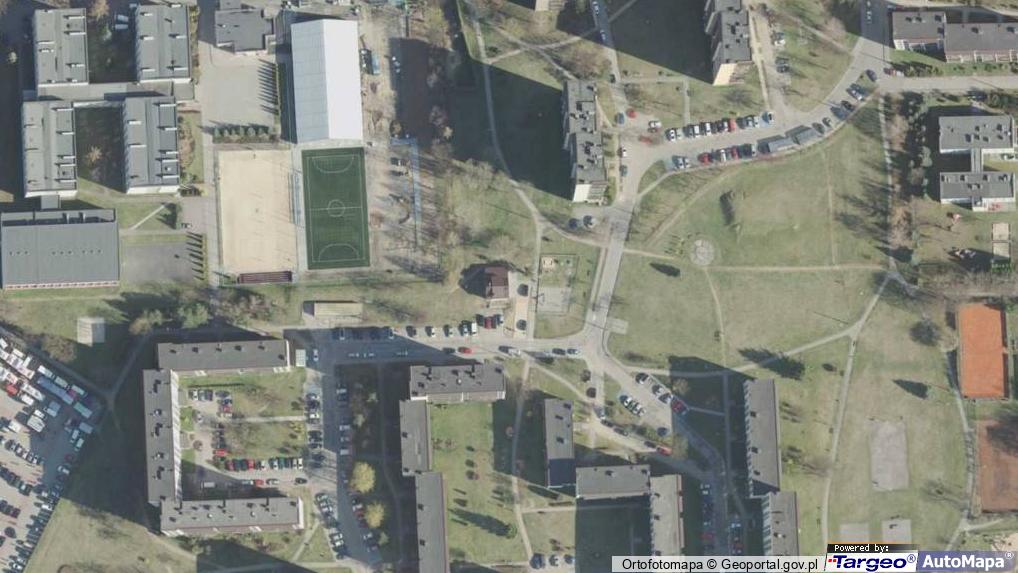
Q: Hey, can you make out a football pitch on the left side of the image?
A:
Yes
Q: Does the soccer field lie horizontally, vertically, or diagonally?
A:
vertically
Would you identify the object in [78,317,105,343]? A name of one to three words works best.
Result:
shed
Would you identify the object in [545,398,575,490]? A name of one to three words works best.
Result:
building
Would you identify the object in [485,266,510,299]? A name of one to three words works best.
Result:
house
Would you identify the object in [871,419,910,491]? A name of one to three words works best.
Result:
sports court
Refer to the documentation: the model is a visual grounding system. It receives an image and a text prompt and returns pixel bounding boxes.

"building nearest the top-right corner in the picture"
[939,23,1018,61]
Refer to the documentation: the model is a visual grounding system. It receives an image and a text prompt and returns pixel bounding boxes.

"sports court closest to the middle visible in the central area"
[537,286,570,312]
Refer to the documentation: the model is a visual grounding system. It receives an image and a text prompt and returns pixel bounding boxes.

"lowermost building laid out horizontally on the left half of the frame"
[161,498,304,535]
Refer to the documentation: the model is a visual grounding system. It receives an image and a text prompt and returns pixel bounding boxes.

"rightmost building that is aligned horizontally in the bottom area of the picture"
[575,465,650,501]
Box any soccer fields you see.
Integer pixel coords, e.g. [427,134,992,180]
[302,147,370,269]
